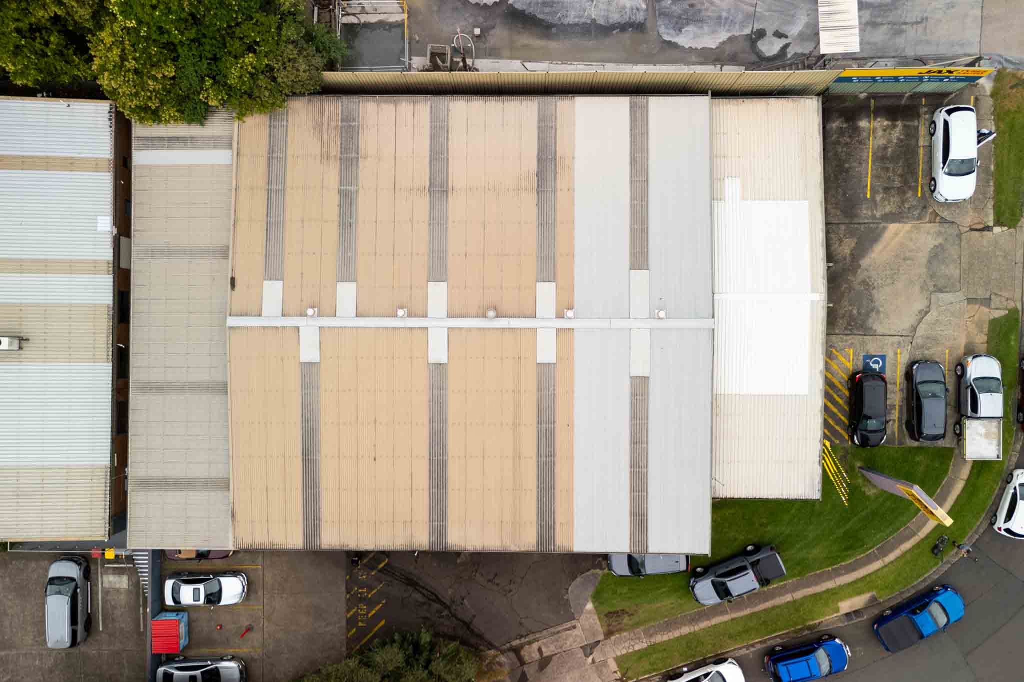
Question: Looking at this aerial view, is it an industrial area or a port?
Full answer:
It's an industrial area.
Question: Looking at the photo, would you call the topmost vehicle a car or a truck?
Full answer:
Looking closely, the topmost vehicle is a car.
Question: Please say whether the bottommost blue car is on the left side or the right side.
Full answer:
You can find the bottommost blue car on the right side of the picture.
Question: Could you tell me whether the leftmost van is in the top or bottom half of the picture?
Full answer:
You can find the leftmost van in the bottom half.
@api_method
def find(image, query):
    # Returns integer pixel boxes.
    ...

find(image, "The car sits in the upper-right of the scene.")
[926,106,997,206]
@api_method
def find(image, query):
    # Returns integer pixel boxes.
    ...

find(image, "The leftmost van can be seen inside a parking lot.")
[43,554,93,649]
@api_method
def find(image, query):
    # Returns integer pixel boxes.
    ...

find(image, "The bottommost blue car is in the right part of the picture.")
[757,627,848,682]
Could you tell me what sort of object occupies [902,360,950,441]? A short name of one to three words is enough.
car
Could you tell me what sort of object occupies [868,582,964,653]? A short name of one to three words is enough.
truck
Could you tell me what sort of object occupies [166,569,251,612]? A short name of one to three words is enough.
car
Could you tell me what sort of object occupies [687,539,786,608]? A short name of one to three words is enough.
truck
